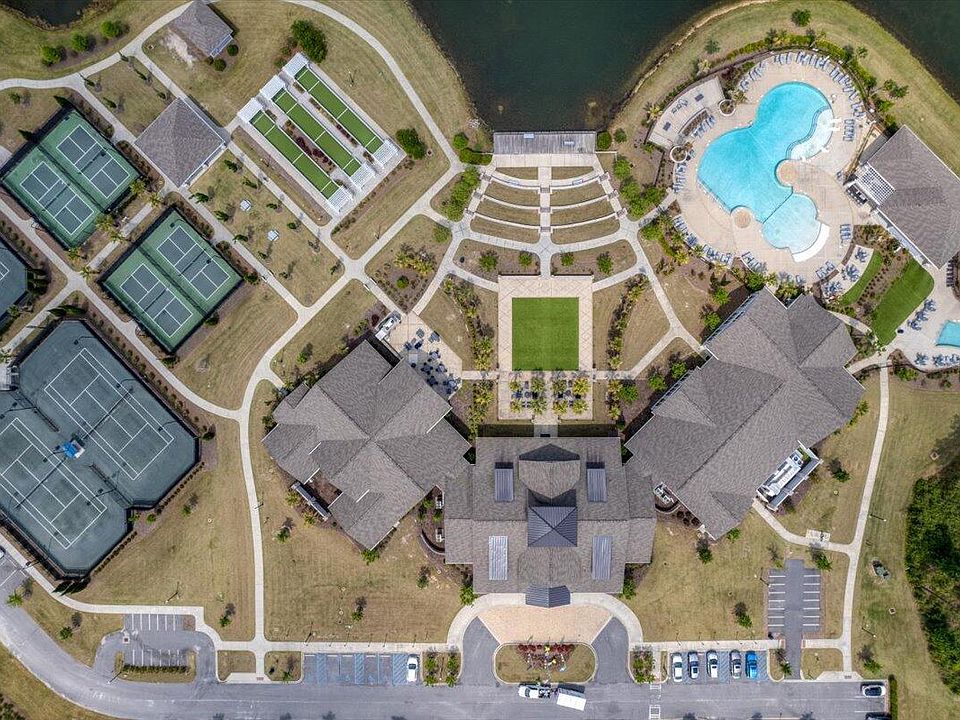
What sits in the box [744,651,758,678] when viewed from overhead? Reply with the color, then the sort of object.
blue car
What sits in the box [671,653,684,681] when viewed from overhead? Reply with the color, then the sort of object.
white vehicle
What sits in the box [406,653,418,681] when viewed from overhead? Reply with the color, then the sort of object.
white vehicle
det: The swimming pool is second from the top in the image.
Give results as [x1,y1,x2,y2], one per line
[760,192,830,262]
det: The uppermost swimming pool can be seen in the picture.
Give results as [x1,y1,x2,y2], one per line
[696,81,834,224]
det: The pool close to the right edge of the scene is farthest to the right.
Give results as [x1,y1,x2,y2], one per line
[935,319,960,350]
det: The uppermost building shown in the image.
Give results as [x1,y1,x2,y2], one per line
[168,0,238,61]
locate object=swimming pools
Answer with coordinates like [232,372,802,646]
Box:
[935,319,960,350]
[760,192,830,262]
[696,81,834,224]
